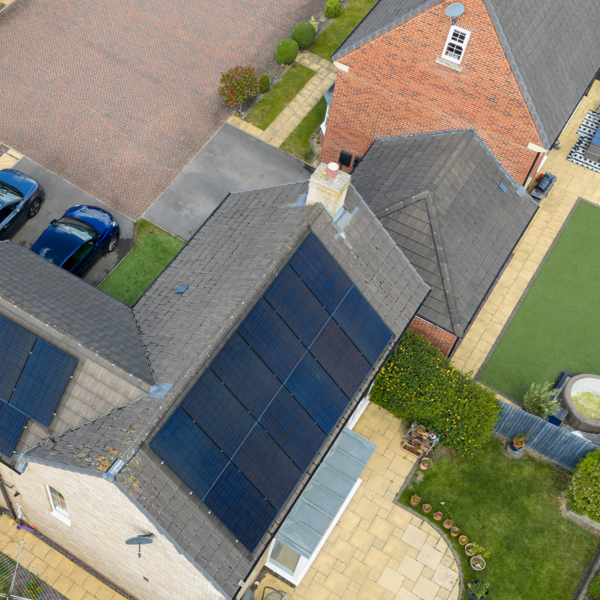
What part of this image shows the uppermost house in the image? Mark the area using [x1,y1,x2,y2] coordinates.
[317,0,600,192]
